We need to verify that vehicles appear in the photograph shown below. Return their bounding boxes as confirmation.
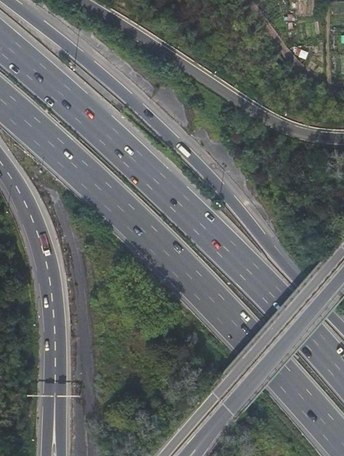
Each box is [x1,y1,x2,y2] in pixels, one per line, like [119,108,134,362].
[335,346,344,356]
[62,150,74,160]
[44,296,48,308]
[124,146,134,156]
[44,340,50,350]
[114,150,124,159]
[168,198,178,207]
[272,302,280,310]
[176,143,193,160]
[142,108,154,118]
[211,240,222,250]
[240,323,250,334]
[62,100,72,110]
[39,232,52,257]
[86,110,96,119]
[240,312,250,322]
[9,64,20,74]
[302,346,312,358]
[44,96,54,106]
[172,242,183,252]
[130,176,140,186]
[204,212,215,222]
[34,72,44,82]
[307,410,318,421]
